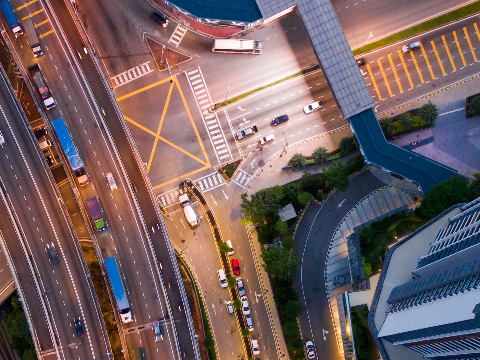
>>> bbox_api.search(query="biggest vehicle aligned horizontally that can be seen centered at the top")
[212,39,262,56]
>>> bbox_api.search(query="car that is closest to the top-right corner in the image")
[402,39,423,53]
